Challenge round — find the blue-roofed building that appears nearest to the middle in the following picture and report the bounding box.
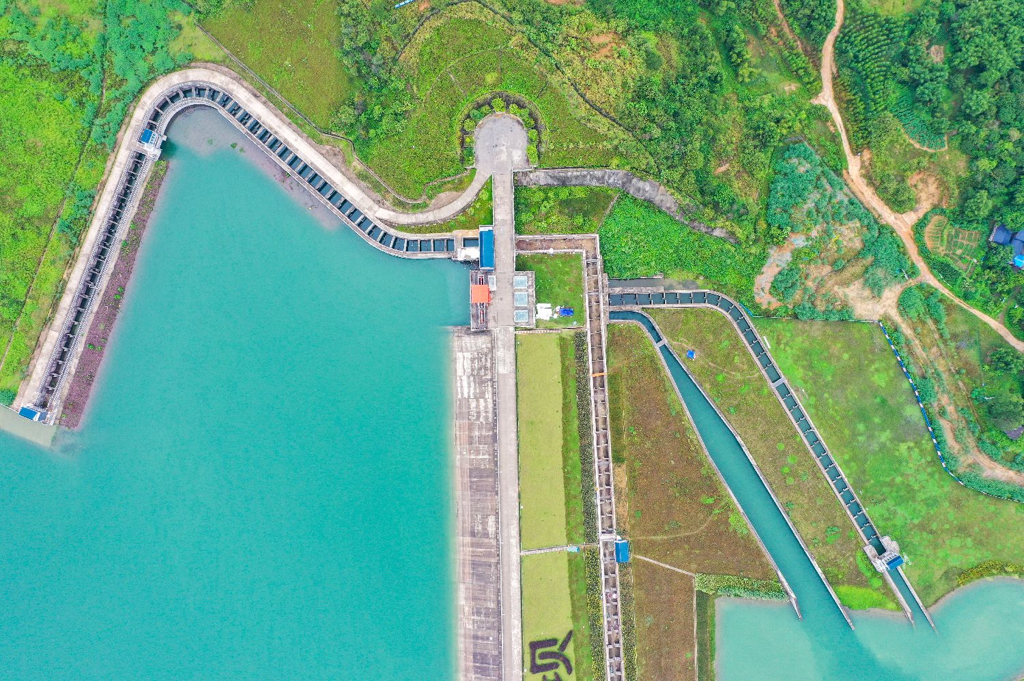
[479,225,494,272]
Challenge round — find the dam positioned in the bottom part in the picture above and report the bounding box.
[449,327,576,681]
